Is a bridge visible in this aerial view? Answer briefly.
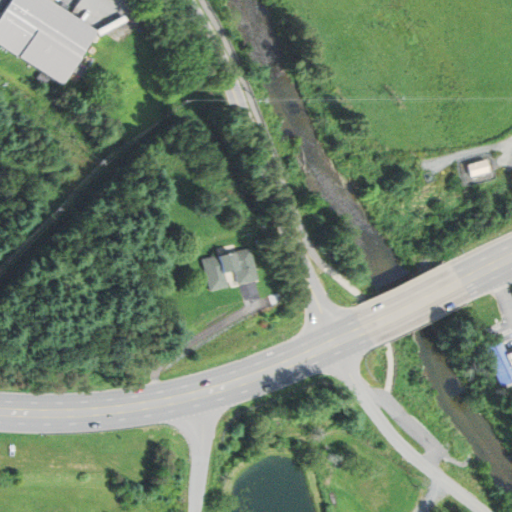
Yes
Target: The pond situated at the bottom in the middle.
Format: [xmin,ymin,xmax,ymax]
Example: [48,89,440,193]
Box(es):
[232,455,316,512]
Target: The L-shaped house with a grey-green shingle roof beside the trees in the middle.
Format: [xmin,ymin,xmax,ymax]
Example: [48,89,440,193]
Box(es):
[202,248,260,292]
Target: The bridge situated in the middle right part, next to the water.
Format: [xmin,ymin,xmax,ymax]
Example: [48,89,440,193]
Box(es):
[352,264,468,350]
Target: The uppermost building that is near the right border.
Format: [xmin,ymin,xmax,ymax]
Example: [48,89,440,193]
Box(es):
[468,159,493,178]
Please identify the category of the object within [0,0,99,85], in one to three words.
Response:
building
